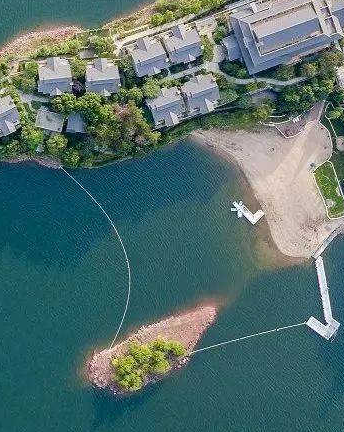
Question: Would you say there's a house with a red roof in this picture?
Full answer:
No, there's no house with a red roof here.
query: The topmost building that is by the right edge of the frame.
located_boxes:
[217,0,344,74]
